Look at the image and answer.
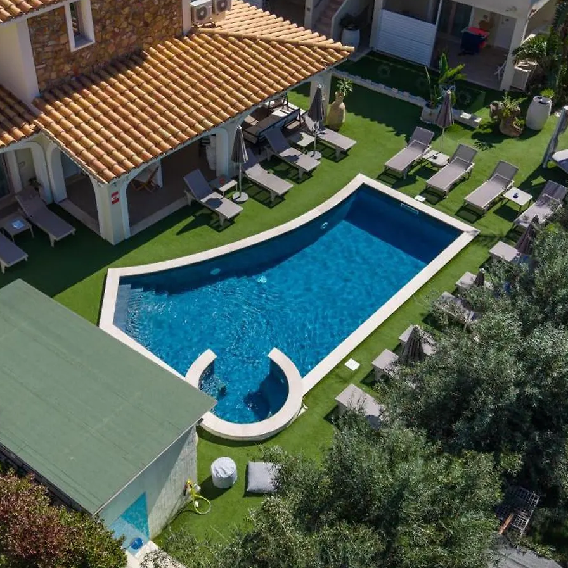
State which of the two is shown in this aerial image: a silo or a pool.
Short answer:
pool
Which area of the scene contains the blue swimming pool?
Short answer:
center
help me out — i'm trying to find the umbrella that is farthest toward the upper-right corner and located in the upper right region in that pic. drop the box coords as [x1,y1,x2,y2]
[434,91,457,156]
